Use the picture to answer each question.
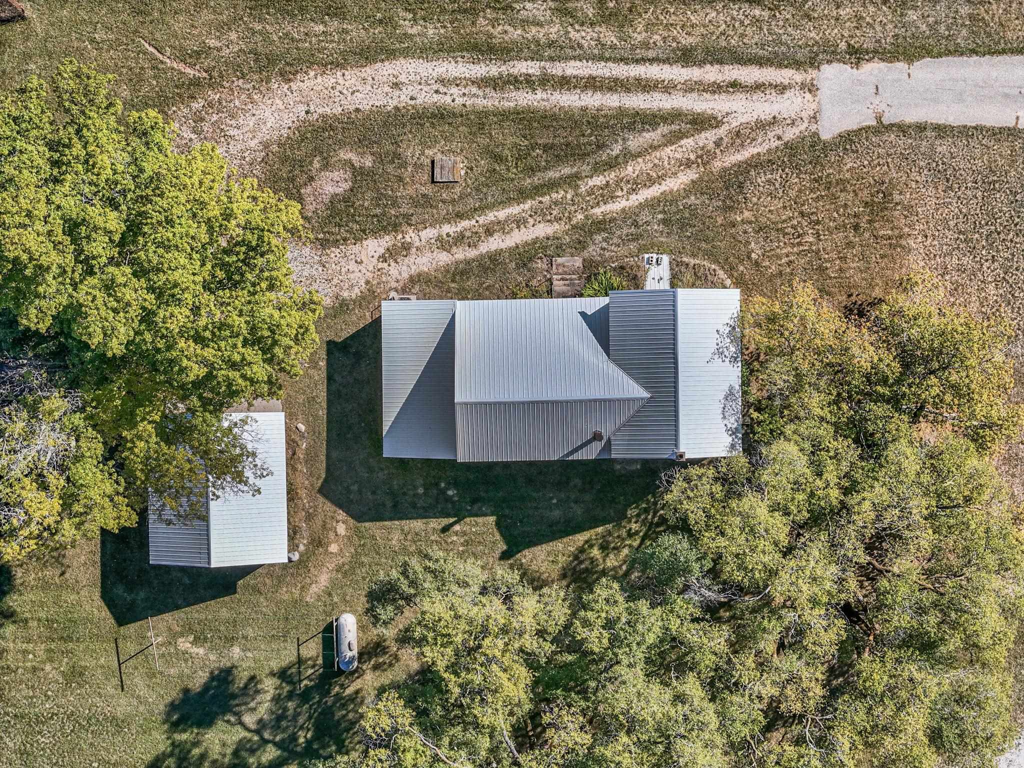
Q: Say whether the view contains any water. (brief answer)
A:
No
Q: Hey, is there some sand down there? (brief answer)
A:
No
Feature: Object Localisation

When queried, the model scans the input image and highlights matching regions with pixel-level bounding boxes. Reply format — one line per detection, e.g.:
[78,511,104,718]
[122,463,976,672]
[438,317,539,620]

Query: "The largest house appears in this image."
[381,286,742,461]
